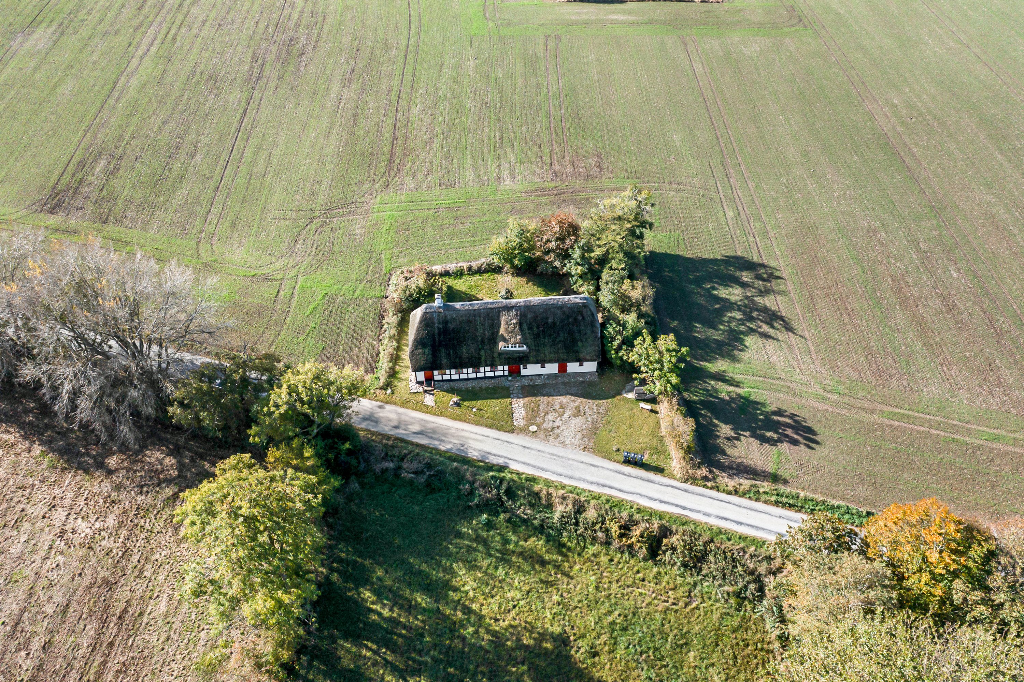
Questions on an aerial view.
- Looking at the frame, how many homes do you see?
1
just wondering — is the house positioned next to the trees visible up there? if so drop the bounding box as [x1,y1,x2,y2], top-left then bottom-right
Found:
[406,292,603,383]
